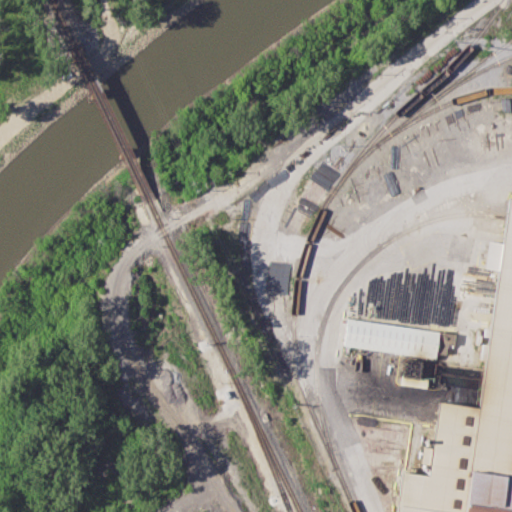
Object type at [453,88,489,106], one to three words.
rail car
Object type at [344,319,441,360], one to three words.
shed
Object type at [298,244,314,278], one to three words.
rail car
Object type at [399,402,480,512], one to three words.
building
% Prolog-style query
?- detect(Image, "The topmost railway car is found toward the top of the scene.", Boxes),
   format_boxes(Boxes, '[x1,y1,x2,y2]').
[448,45,474,74]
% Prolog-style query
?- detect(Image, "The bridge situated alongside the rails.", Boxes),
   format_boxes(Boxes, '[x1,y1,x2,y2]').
[88,80,162,207]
